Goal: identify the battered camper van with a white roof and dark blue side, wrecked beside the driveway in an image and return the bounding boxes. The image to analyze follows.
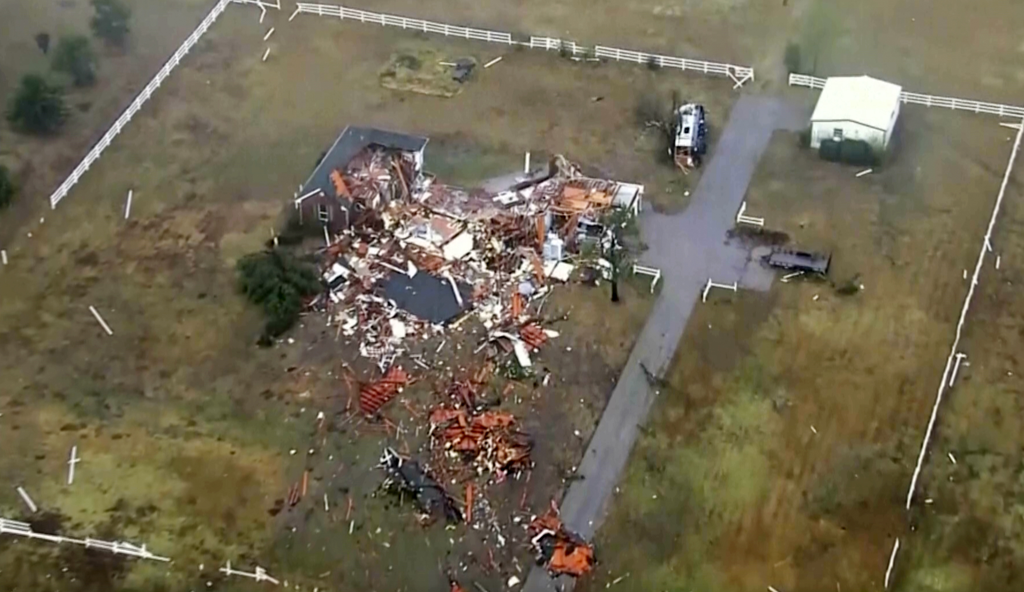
[674,107,705,175]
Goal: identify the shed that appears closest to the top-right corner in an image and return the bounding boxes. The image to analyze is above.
[810,74,904,156]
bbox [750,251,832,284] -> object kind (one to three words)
trailer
